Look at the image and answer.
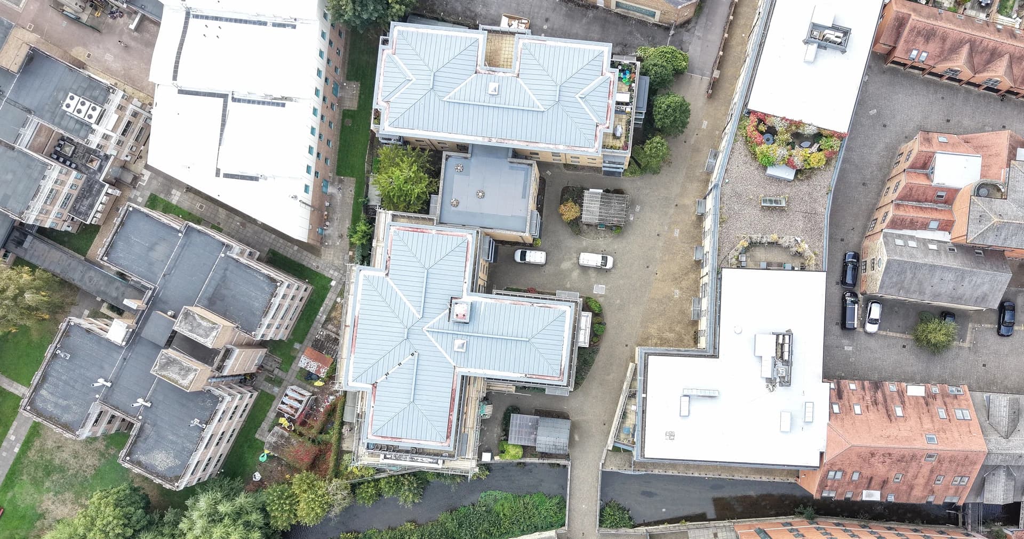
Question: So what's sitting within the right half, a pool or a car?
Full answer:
You can see a car within the right half.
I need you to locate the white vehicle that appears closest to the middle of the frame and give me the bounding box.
[513,248,547,264]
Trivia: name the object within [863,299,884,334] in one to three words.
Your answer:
car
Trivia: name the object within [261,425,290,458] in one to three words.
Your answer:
shed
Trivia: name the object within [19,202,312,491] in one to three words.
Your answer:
building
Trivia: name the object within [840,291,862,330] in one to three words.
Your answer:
vehicle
